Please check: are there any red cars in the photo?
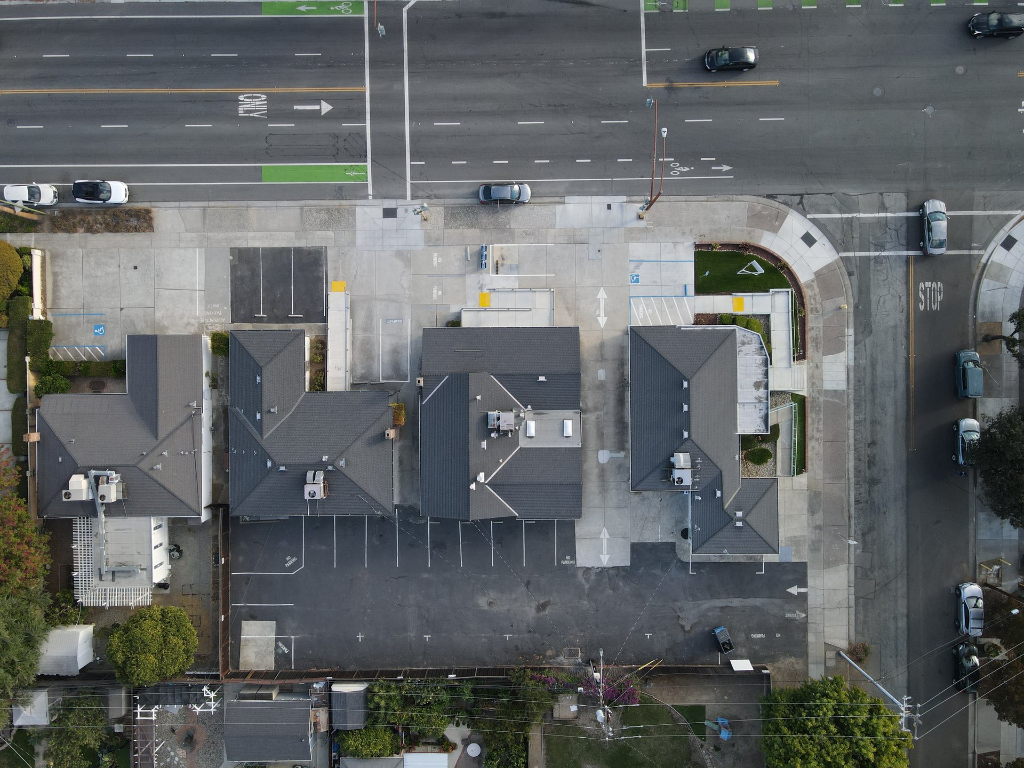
No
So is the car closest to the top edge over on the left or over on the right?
right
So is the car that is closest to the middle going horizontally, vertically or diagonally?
horizontally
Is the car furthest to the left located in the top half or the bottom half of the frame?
top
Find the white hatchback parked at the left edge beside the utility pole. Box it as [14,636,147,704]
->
[1,182,58,206]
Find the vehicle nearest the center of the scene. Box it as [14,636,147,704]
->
[479,180,531,205]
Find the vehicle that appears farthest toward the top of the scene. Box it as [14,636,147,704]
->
[968,10,1024,40]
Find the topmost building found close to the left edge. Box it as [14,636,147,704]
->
[23,334,211,518]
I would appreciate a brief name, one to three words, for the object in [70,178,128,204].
car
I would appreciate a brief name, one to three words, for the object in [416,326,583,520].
house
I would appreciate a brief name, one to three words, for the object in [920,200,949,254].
car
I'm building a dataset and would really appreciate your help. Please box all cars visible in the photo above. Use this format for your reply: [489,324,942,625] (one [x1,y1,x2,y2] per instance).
[1,182,58,206]
[70,178,128,204]
[955,349,985,398]
[920,200,949,254]
[704,44,758,71]
[968,10,1024,40]
[954,583,984,637]
[952,418,982,467]
[479,180,531,205]
[951,642,980,694]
